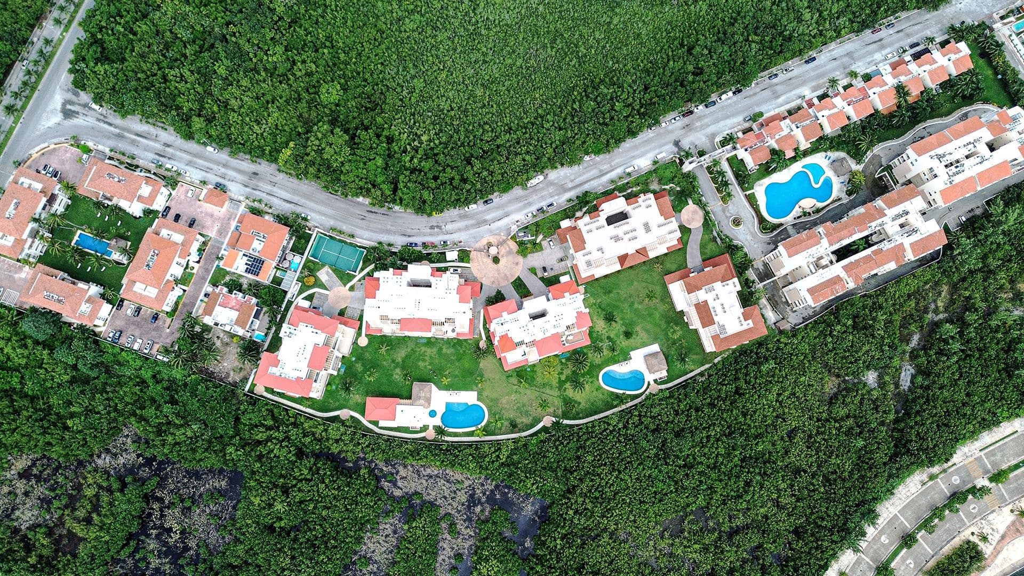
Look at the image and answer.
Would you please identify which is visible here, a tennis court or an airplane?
tennis court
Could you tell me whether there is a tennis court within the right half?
No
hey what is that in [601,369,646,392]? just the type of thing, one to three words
swimming pool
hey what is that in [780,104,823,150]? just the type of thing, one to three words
house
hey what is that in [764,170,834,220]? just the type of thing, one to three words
swimming pool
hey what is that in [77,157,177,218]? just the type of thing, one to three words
building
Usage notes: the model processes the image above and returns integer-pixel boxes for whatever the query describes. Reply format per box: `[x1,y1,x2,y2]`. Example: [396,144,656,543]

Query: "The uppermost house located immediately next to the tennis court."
[223,214,291,263]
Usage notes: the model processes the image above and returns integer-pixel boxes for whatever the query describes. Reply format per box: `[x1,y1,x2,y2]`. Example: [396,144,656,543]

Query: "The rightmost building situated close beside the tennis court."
[365,265,481,339]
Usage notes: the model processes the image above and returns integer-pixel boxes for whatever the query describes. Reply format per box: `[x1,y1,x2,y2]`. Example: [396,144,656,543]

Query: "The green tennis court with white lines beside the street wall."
[308,233,368,275]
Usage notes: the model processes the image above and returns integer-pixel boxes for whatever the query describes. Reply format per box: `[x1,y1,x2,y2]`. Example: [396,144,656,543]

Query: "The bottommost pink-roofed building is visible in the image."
[364,396,424,421]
